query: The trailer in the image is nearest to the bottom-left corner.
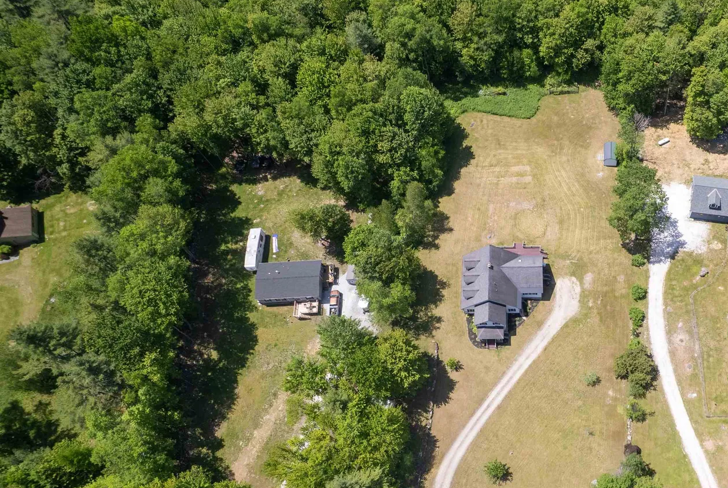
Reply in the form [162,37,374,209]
[245,229,266,271]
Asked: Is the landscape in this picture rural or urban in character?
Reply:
rural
